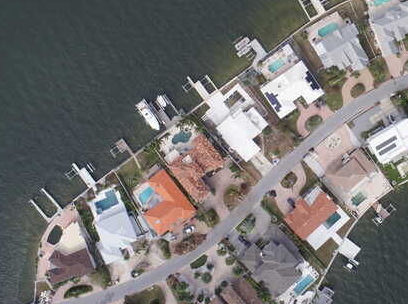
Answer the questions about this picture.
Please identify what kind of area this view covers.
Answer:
residential area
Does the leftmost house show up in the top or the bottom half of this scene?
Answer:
bottom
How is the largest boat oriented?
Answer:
diagonally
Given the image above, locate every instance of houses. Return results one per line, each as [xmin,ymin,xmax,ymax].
[166,134,224,203]
[324,148,380,203]
[261,62,324,119]
[316,23,368,77]
[285,187,339,241]
[241,232,310,295]
[212,276,266,304]
[90,202,137,265]
[48,221,96,284]
[201,92,268,162]
[145,170,196,235]
[372,2,408,58]
[368,118,408,166]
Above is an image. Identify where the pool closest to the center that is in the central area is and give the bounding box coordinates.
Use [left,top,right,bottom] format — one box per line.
[171,130,193,144]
